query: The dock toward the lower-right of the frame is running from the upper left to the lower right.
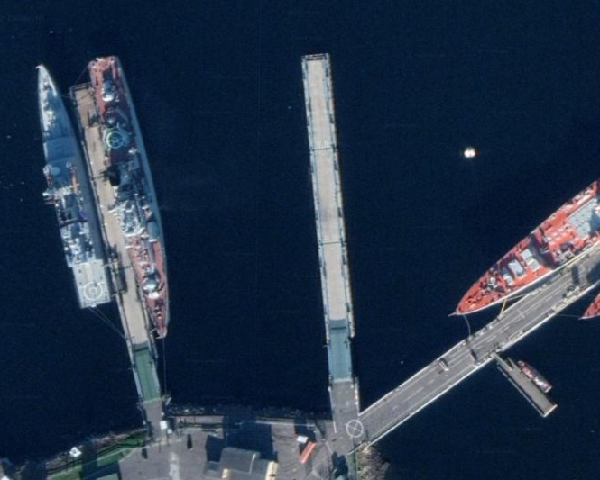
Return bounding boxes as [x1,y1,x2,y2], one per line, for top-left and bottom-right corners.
[494,355,559,419]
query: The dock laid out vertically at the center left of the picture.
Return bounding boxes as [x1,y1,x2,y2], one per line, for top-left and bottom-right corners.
[72,82,168,443]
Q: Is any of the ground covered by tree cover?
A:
No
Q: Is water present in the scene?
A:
Yes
